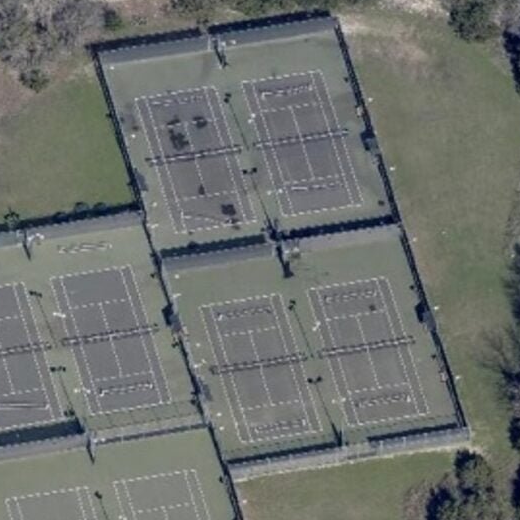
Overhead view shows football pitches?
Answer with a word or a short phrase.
No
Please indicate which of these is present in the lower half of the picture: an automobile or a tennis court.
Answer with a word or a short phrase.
tennis court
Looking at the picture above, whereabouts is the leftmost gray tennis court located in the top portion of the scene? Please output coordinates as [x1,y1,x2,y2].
[136,86,255,232]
